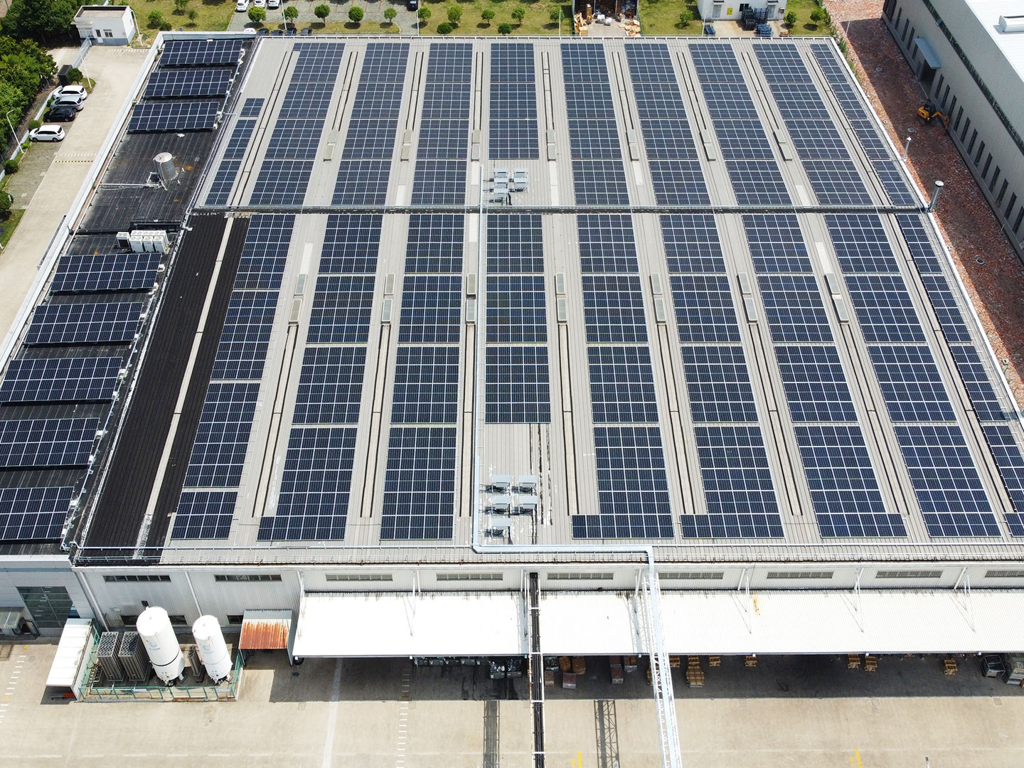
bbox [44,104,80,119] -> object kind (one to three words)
car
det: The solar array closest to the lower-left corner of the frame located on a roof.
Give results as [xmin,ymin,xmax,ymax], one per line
[0,487,72,538]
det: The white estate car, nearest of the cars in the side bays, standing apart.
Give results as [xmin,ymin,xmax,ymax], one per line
[32,124,69,140]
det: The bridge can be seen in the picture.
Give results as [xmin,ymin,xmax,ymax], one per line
[642,577,685,768]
